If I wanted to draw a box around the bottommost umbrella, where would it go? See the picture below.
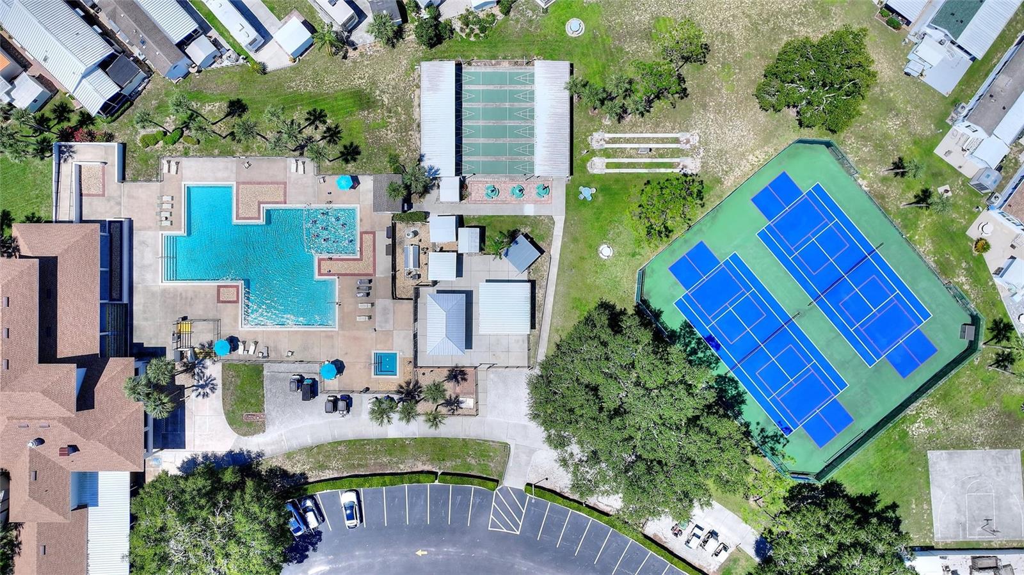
[320,362,338,380]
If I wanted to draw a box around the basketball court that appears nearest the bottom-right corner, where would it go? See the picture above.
[928,450,1024,542]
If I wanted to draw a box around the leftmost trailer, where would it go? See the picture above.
[206,0,270,55]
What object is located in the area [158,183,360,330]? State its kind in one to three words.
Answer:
swimming pool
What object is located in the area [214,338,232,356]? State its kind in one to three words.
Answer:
umbrella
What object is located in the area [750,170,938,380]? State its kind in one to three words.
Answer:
tennis court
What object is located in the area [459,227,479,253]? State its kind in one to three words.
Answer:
shed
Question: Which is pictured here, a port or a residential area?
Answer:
residential area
